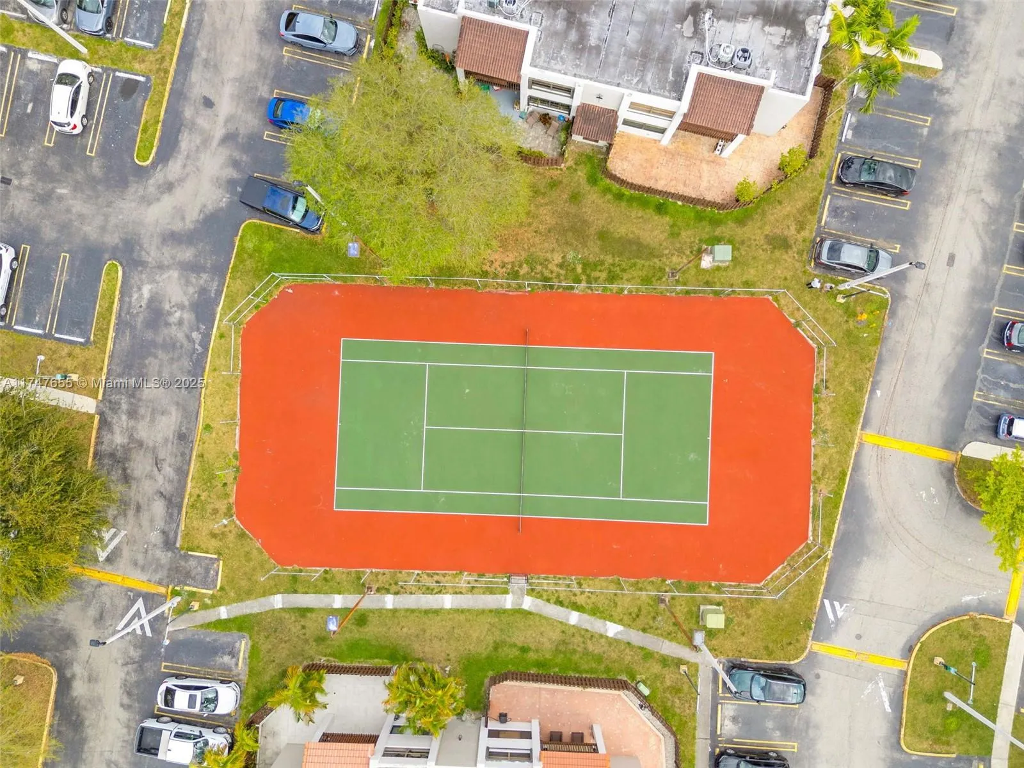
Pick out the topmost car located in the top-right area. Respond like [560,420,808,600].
[834,156,916,197]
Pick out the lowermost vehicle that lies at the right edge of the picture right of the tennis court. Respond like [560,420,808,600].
[996,415,1024,444]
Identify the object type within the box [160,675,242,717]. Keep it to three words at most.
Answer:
car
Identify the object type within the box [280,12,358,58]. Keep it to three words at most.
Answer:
car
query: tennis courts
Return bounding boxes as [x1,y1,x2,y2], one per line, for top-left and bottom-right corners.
[233,284,817,585]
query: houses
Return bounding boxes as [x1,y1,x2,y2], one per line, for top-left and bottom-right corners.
[418,0,840,156]
[275,715,641,768]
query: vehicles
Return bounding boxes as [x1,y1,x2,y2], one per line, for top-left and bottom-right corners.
[74,0,114,34]
[137,717,237,768]
[267,97,338,136]
[996,415,1024,444]
[1000,323,1024,354]
[237,175,328,236]
[725,666,805,707]
[811,236,891,275]
[50,62,94,132]
[160,675,242,717]
[280,12,358,58]
[30,0,65,24]
[0,248,17,318]
[834,156,916,197]
[711,749,791,768]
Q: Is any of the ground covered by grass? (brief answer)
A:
Yes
